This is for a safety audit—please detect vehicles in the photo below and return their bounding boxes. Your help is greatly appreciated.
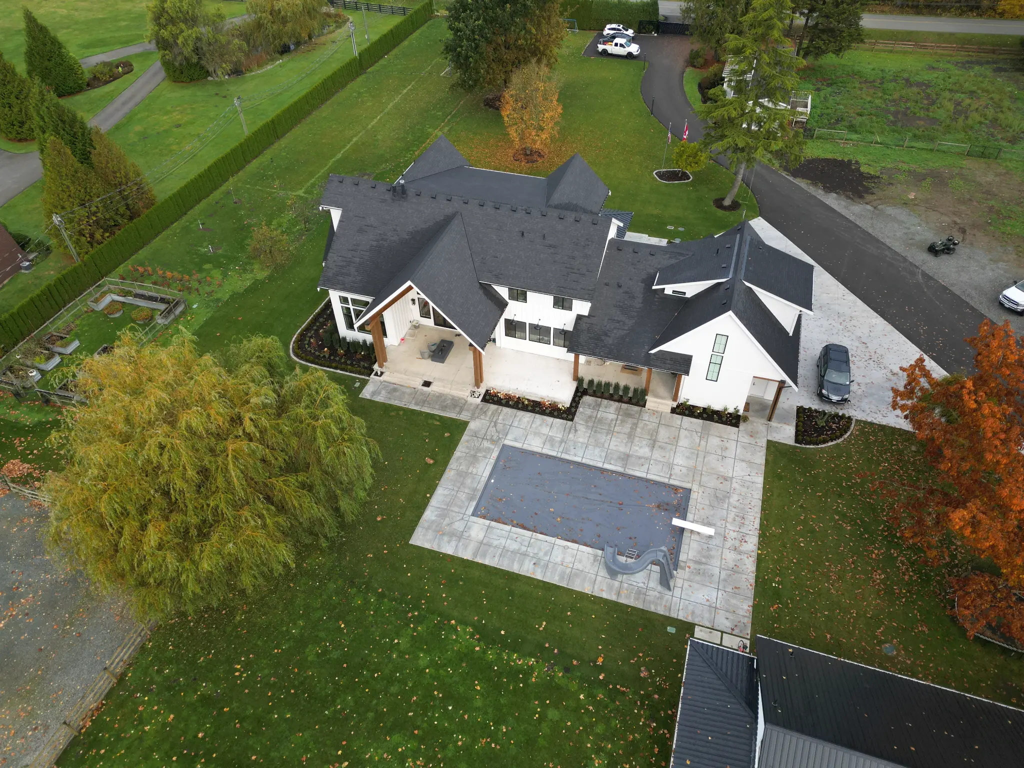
[597,38,643,59]
[598,30,632,43]
[817,343,856,405]
[999,269,1024,309]
[933,241,962,259]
